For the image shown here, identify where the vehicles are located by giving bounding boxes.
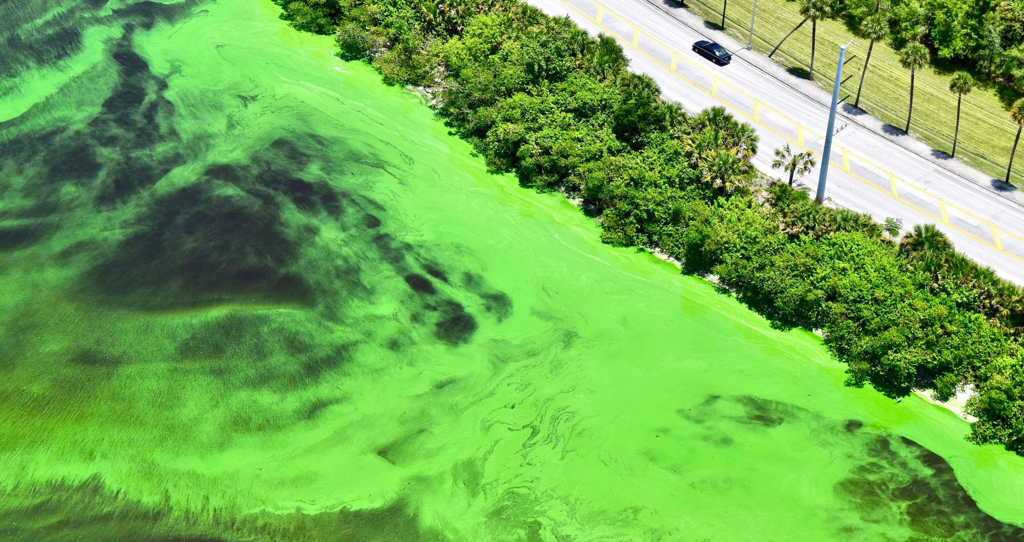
[691,37,734,62]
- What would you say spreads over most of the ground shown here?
water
